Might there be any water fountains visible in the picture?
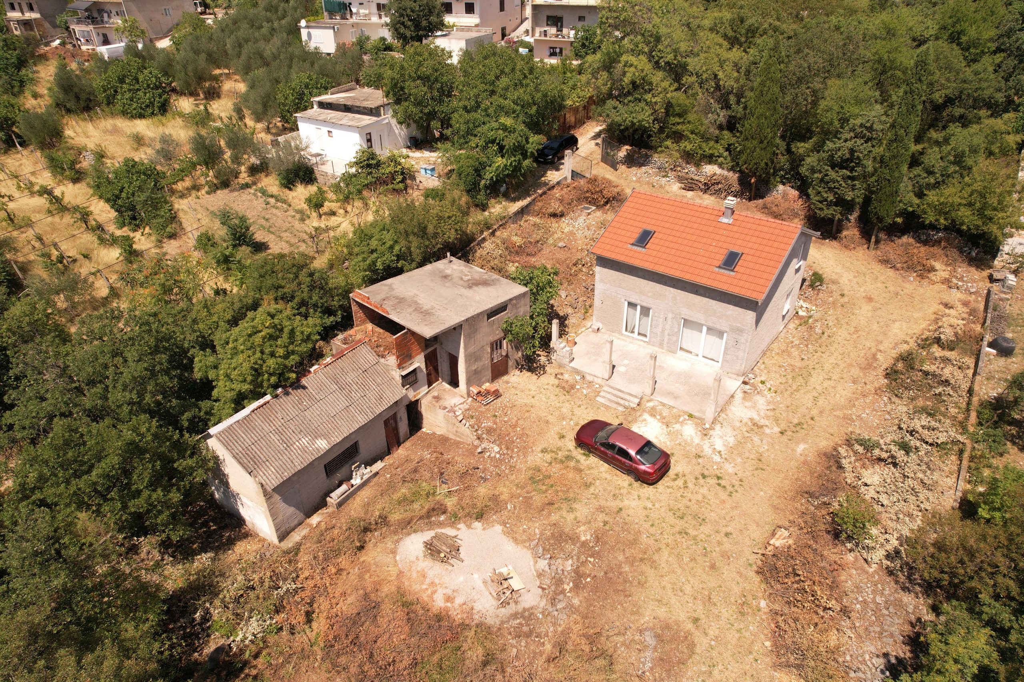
No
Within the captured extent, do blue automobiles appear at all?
No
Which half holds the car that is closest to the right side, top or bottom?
bottom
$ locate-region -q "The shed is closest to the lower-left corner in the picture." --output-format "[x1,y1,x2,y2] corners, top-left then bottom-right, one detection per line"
[203,338,411,544]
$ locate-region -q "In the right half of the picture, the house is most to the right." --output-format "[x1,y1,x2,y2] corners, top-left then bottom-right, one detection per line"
[588,188,822,382]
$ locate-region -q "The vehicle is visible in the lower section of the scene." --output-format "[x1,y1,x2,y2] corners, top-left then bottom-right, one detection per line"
[574,416,676,487]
